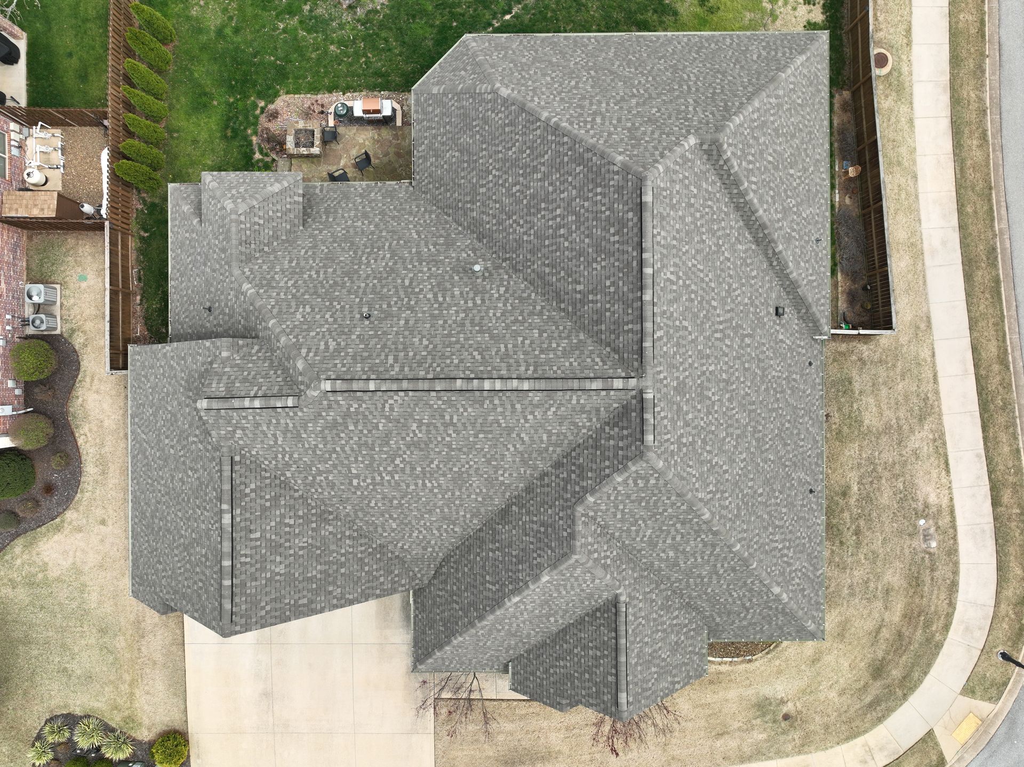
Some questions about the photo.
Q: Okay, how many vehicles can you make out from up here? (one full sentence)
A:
The count of vehicles is 0.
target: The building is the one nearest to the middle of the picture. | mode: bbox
[128,31,830,720]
